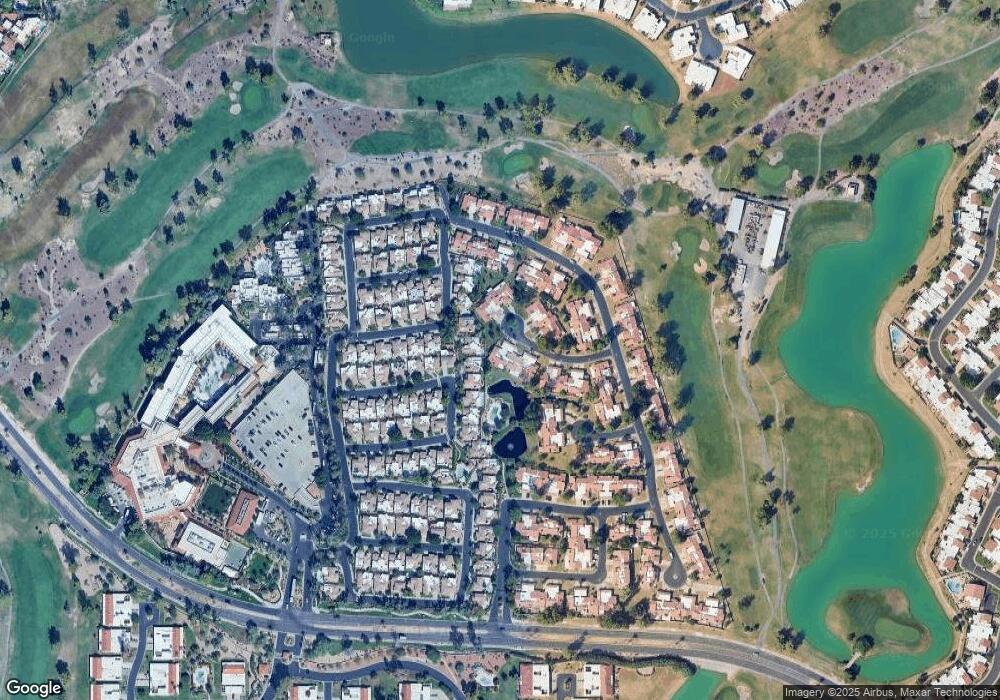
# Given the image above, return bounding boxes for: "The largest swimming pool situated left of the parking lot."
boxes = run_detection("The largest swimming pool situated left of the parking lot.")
[191,350,230,404]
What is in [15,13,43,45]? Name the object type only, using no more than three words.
house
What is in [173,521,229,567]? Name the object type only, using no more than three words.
building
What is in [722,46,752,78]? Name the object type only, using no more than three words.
house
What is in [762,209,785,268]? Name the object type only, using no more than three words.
shed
